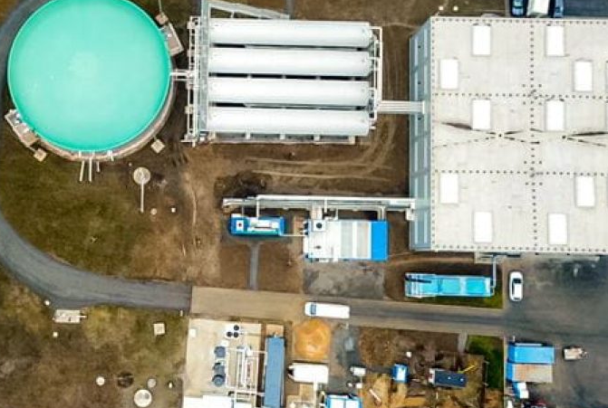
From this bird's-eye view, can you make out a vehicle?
Yes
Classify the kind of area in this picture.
industrial area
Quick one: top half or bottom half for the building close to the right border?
top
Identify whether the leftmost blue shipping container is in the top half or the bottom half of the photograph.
bottom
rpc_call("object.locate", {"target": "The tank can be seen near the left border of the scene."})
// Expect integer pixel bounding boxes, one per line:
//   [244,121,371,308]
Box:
[3,0,183,182]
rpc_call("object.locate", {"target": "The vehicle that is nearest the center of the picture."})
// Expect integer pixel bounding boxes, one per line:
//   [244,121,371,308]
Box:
[305,302,351,320]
